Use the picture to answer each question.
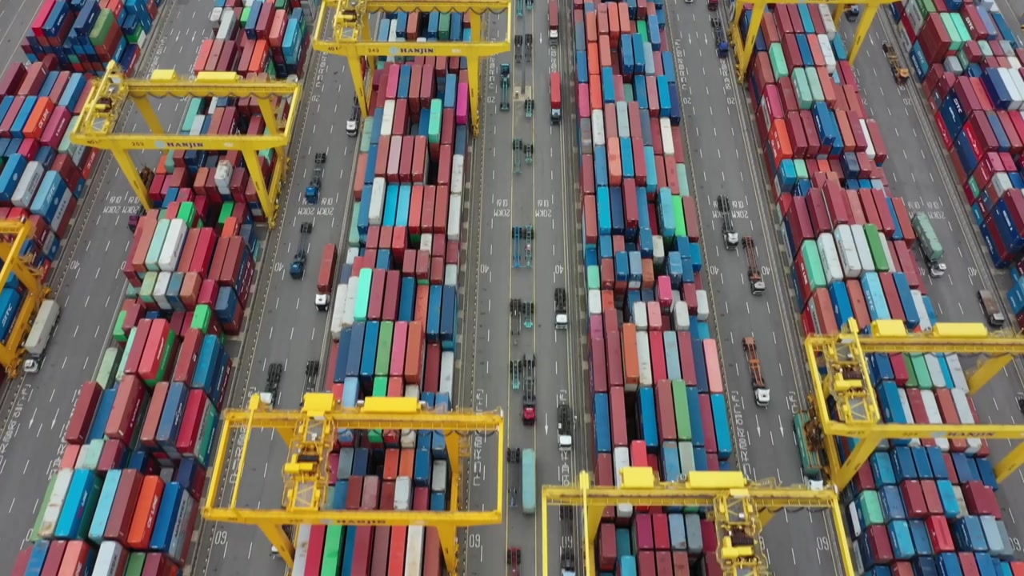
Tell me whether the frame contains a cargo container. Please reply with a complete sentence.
Yes, I can see a cargo container in this picture.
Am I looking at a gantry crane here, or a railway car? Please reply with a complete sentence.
Visible in the photo is a gantry crane.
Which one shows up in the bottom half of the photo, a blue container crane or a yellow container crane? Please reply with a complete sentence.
Looking in the bottom half of the photo, you will find a yellow container crane.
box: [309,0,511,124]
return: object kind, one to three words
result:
container crane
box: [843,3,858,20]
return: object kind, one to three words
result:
vehicle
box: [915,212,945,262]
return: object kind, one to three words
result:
shipping container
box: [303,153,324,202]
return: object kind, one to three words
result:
truck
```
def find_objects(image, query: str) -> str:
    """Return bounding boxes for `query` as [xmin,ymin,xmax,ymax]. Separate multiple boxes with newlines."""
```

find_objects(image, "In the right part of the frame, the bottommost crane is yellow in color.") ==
[543,463,858,576]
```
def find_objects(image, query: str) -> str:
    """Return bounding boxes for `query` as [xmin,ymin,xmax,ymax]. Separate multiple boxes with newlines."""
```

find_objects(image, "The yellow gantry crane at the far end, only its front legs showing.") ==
[727,0,911,73]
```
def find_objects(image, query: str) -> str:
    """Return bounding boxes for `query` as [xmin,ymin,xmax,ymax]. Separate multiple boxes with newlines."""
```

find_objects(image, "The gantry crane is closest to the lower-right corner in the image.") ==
[806,317,1024,486]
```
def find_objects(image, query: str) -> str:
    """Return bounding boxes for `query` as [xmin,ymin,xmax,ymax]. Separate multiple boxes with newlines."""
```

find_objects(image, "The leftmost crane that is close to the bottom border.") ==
[200,391,504,576]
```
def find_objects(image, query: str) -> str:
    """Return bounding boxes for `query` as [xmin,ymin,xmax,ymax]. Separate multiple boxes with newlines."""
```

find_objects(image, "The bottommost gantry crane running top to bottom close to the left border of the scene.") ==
[0,222,49,375]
